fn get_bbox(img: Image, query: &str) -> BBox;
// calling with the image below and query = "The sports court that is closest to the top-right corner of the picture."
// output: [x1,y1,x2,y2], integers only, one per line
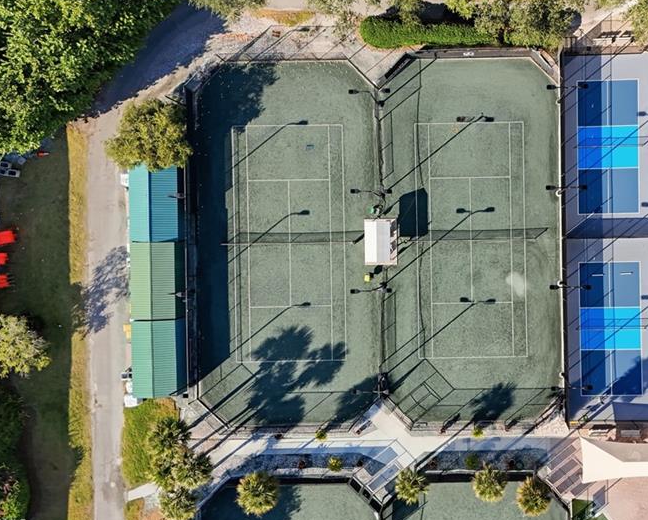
[573,79,645,214]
